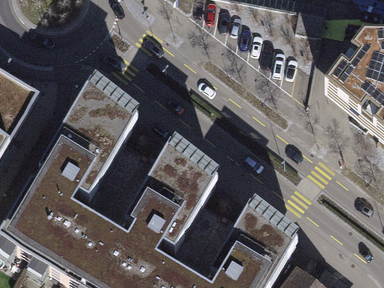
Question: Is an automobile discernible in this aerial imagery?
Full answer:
Yes, there's an automobile here.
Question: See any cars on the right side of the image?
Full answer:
Yes, the scene does show a car on the right side of the image.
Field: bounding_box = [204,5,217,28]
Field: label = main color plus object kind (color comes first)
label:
red vehicle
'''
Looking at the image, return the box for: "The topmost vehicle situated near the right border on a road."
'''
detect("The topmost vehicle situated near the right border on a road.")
[354,199,376,218]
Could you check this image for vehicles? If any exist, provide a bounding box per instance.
[284,59,298,86]
[100,54,127,74]
[192,2,204,26]
[356,246,376,266]
[140,37,166,58]
[148,121,174,143]
[108,0,125,20]
[250,36,264,62]
[354,199,376,218]
[218,10,230,36]
[272,54,286,82]
[204,5,217,28]
[282,145,307,168]
[196,82,218,102]
[260,45,273,71]
[238,28,251,54]
[229,16,242,40]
